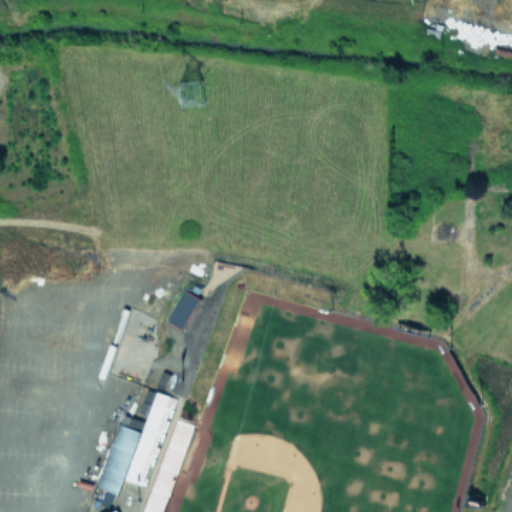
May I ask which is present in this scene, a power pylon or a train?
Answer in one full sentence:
This aerial view contains a power pylon.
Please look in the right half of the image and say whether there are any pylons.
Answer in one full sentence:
No, no pylon can be made out in the right half of the image.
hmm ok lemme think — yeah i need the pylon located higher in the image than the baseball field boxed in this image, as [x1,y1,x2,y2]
[166,80,206,108]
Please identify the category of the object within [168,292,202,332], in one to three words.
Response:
building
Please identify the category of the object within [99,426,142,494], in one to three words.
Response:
building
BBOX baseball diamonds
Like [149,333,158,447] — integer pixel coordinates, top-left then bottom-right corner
[167,294,485,512]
